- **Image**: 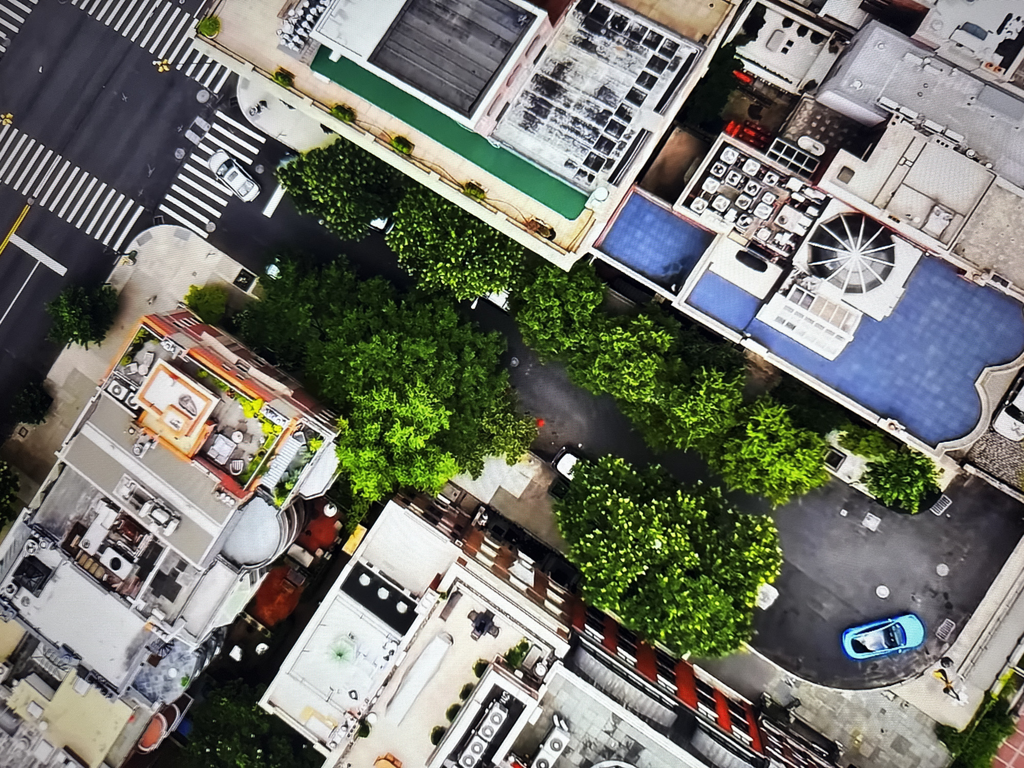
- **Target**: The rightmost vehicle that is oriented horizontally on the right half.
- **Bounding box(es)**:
[842,615,929,663]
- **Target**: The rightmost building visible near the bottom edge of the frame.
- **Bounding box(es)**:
[506,584,806,768]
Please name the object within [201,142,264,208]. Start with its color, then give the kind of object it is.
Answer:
white car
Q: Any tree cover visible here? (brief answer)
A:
Yes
